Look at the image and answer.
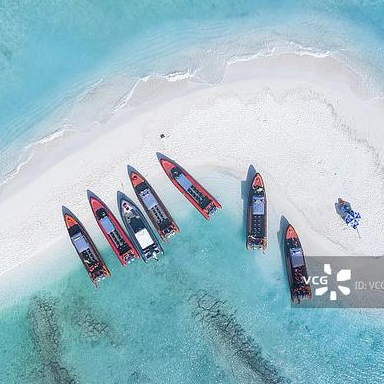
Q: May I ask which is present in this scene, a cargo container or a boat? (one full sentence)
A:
I can see a boat in this picture.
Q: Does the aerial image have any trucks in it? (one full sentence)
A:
No, no truck is visible in the scene.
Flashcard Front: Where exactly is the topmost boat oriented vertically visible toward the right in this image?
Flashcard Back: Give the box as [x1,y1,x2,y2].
[247,173,267,249]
